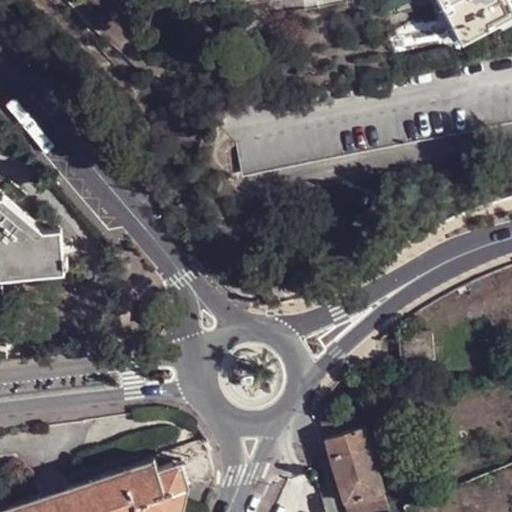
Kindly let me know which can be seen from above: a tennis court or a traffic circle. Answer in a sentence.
Of the two, only a traffic circle appears.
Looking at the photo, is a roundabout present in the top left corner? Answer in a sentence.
No, in the top left corner there is no roundabout.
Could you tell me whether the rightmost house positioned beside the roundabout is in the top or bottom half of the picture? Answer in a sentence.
The rightmost house positioned beside the roundabout is in the bottom half of the image.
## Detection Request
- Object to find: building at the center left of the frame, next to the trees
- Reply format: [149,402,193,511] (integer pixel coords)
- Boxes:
[0,192,73,284]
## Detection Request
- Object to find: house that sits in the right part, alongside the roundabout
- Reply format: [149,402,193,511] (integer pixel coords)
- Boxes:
[325,430,392,512]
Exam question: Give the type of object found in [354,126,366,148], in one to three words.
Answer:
vehicle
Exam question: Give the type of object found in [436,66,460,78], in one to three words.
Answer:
vehicle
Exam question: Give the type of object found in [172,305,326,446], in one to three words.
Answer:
roundabout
